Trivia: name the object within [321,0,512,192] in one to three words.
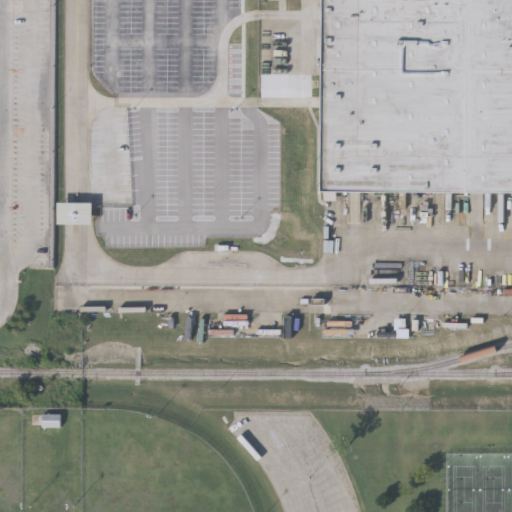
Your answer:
building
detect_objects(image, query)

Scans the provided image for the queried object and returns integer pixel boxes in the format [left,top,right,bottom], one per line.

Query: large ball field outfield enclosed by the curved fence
[84,410,252,512]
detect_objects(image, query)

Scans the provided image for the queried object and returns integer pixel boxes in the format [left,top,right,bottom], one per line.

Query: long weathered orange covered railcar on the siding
[462,346,500,364]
